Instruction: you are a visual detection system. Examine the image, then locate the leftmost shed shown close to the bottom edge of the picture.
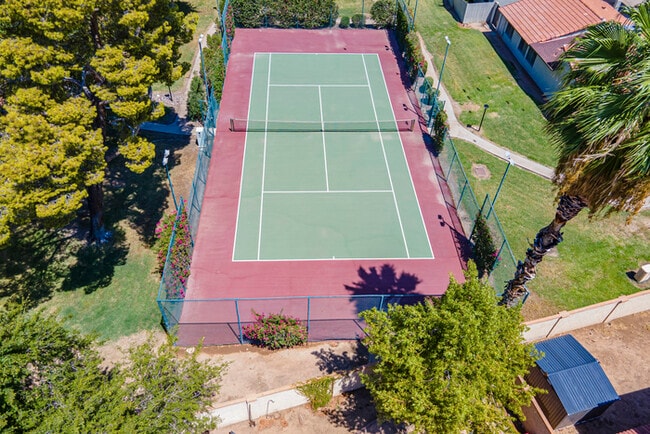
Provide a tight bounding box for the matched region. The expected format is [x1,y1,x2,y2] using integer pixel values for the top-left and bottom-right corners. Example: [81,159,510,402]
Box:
[518,336,616,433]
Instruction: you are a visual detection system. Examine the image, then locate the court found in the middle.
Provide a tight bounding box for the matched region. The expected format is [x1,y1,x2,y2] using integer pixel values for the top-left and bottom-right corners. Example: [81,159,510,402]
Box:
[175,27,489,346]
